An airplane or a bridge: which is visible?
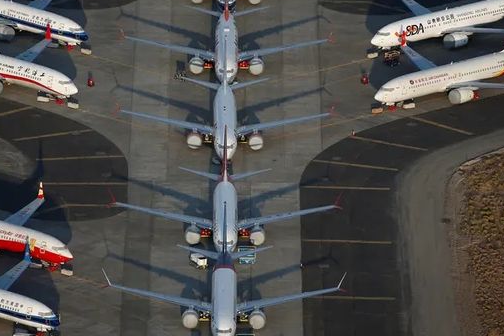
airplane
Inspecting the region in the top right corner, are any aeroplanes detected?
Yes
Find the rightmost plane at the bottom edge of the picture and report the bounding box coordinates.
[103,203,345,336]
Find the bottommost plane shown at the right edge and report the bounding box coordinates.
[375,31,504,110]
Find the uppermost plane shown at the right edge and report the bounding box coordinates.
[372,0,504,53]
